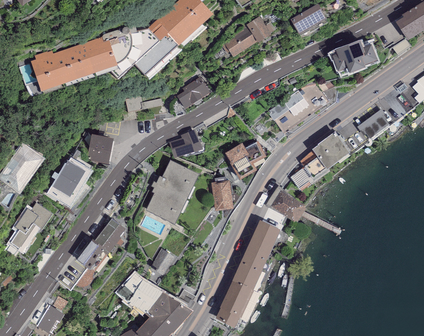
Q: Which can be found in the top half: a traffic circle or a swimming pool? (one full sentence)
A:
You can see a swimming pool in the top half.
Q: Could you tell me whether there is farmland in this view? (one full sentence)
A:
No, there is no farmland in the image.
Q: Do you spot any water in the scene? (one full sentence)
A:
Yes, water shows up in the scene.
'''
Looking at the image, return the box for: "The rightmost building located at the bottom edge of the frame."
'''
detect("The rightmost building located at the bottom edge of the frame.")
[217,220,280,328]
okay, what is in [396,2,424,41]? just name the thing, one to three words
house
